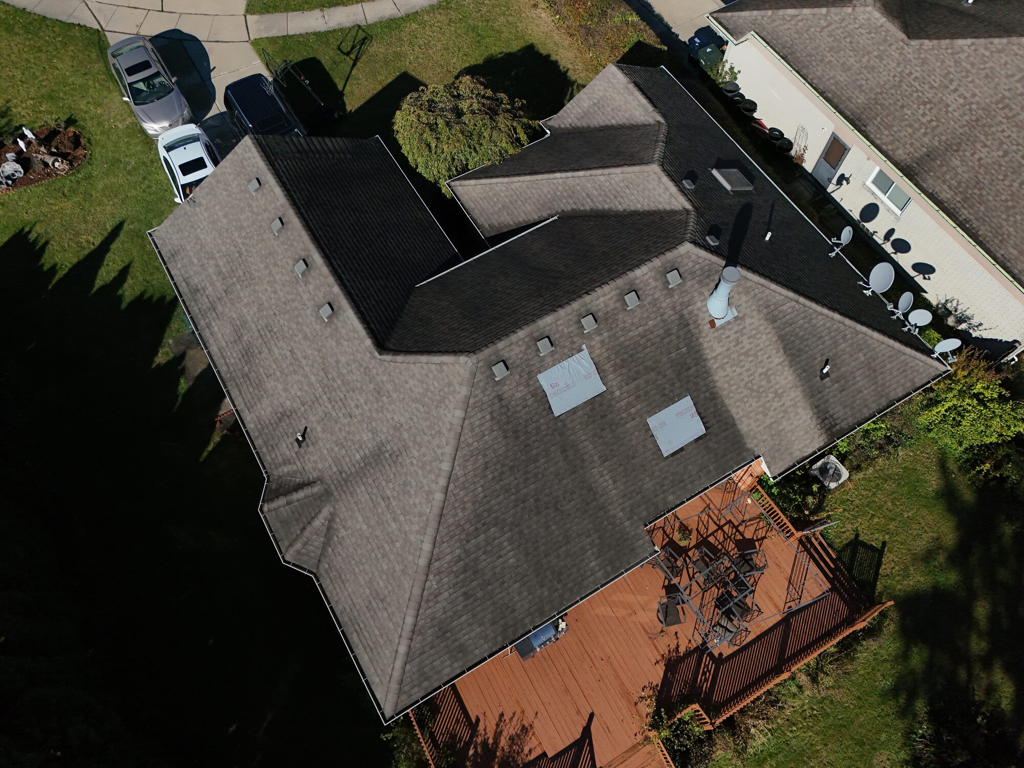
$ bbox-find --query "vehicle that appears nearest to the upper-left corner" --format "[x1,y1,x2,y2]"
[103,32,191,136]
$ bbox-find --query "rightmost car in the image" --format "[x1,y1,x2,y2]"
[223,65,312,135]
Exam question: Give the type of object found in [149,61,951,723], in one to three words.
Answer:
house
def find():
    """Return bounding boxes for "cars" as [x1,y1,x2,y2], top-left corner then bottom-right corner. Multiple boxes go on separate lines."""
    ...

[223,65,312,135]
[154,119,223,202]
[103,32,191,136]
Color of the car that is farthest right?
black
